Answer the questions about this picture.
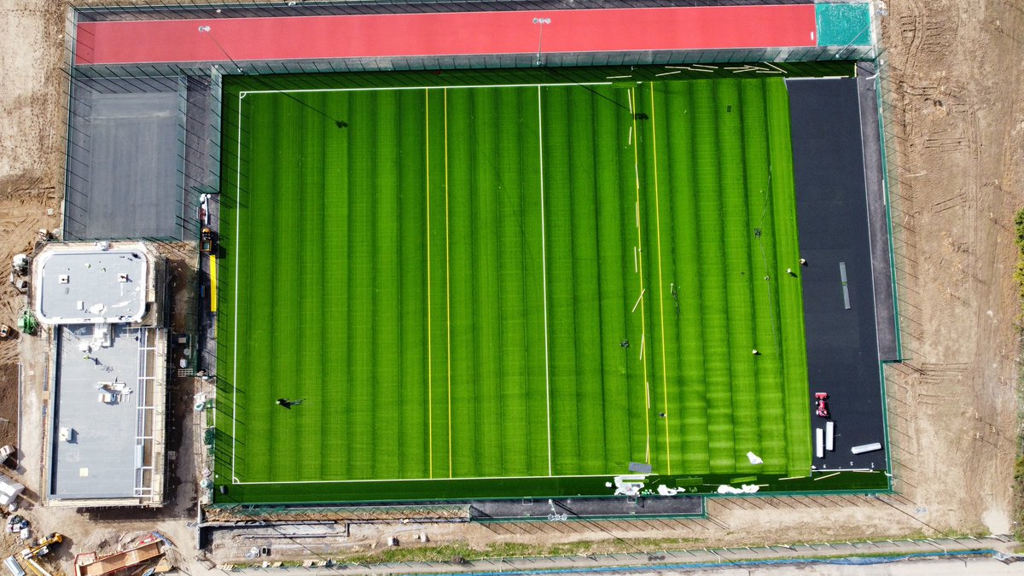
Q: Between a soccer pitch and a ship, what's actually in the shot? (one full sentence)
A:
This aerial view contains a soccer pitch.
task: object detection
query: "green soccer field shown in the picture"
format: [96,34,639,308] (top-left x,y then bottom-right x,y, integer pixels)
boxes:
[211,58,892,507]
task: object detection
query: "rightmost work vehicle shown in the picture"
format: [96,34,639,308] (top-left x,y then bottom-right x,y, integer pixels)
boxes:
[815,390,830,419]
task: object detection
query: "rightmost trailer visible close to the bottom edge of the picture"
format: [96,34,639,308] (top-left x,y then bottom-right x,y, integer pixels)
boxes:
[74,536,166,576]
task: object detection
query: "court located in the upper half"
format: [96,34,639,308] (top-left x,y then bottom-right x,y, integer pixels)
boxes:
[67,77,185,239]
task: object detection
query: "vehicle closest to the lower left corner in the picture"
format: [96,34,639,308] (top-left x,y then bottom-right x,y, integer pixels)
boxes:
[10,530,62,564]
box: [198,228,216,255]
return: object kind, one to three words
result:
vehicle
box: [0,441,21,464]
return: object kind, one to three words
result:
truck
